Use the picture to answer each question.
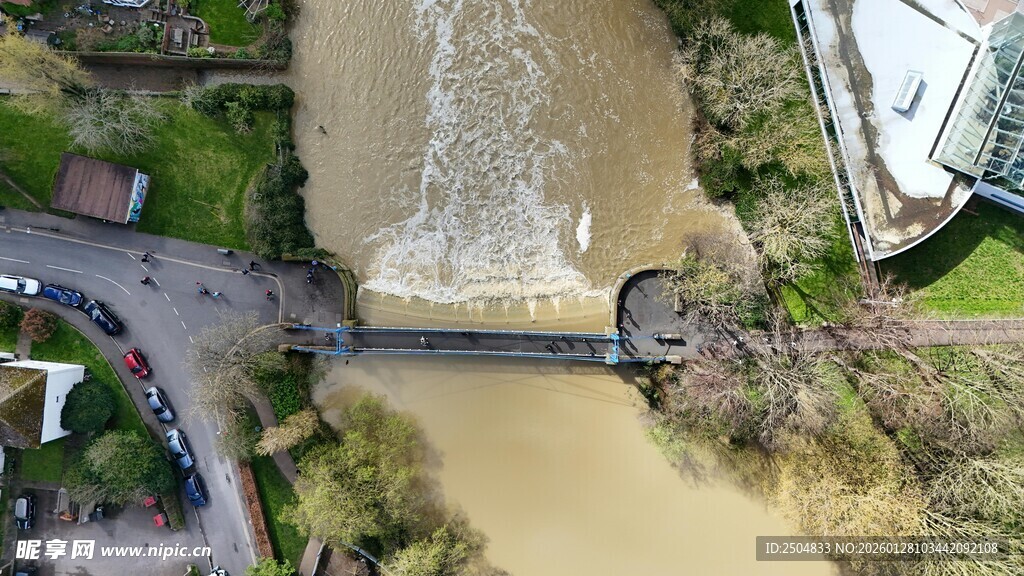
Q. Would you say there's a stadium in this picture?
No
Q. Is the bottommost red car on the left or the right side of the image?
left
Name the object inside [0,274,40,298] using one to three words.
car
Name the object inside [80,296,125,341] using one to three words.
car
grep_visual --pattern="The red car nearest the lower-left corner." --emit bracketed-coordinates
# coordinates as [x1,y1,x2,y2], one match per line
[120,344,152,383]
